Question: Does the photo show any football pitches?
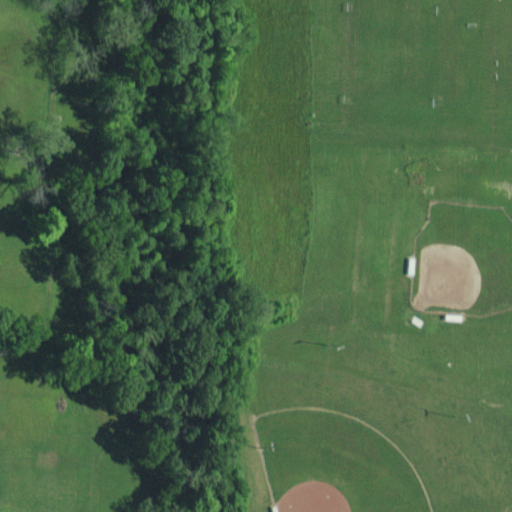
Yes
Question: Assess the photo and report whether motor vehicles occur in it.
No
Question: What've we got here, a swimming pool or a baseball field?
baseball field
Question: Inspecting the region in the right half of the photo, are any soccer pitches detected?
Yes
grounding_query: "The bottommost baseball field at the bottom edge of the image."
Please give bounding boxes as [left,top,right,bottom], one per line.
[252,406,434,512]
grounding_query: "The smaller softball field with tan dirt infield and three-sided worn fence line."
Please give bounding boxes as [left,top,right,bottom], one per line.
[410,201,512,318]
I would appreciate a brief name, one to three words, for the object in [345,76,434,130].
soccer field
